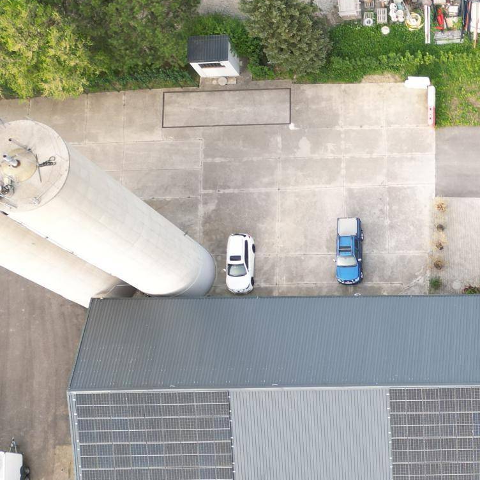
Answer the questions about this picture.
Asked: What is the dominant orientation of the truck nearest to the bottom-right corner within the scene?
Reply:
from top to bottom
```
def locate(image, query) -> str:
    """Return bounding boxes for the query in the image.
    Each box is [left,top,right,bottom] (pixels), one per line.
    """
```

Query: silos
[0,208,134,306]
[0,111,214,294]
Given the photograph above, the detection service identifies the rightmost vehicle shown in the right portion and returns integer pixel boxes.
[333,215,365,286]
